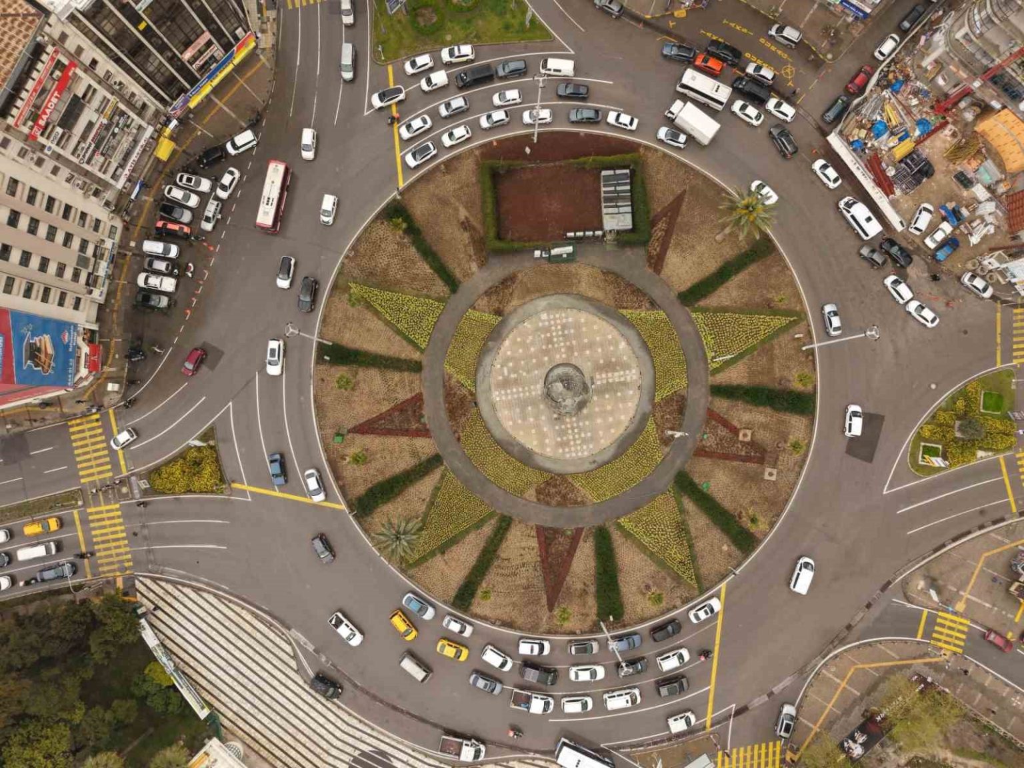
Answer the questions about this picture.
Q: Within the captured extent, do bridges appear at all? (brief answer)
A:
No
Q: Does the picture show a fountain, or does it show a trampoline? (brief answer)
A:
fountain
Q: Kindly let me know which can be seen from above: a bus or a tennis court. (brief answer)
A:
bus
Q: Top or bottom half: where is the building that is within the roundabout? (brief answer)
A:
top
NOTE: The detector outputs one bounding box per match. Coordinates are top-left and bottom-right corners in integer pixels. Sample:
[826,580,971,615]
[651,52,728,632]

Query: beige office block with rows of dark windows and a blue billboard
[0,122,132,409]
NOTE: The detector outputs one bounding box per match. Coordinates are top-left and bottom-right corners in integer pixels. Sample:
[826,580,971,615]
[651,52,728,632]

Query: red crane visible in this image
[930,49,1022,118]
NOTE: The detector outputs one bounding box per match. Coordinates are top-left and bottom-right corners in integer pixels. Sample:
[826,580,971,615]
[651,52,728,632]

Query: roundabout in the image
[313,132,818,637]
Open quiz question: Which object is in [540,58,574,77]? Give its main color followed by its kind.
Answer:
white vehicle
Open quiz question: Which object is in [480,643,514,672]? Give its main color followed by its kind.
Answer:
white van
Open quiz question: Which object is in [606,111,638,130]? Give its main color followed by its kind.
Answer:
white car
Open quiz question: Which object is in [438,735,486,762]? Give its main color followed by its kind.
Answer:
white truck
